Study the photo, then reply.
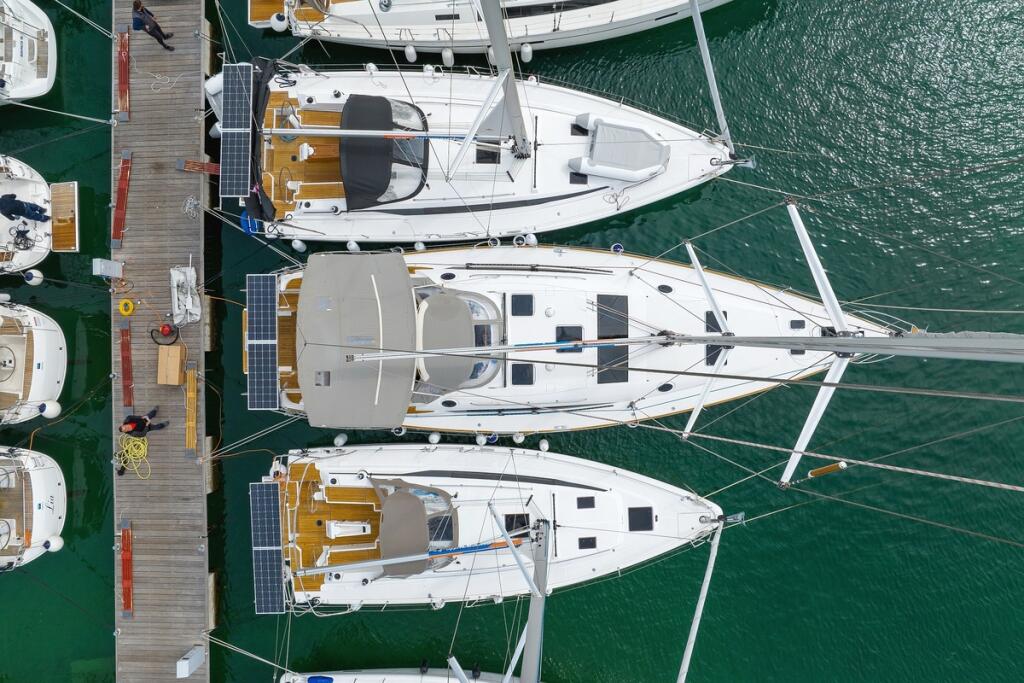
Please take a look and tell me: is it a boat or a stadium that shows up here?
boat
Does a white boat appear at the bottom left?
Yes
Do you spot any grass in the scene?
No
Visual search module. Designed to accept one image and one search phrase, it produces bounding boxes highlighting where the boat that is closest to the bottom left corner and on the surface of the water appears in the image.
[0,448,68,570]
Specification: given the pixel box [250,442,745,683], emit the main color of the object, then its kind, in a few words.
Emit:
white boat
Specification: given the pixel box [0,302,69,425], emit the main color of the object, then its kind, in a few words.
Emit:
white boat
